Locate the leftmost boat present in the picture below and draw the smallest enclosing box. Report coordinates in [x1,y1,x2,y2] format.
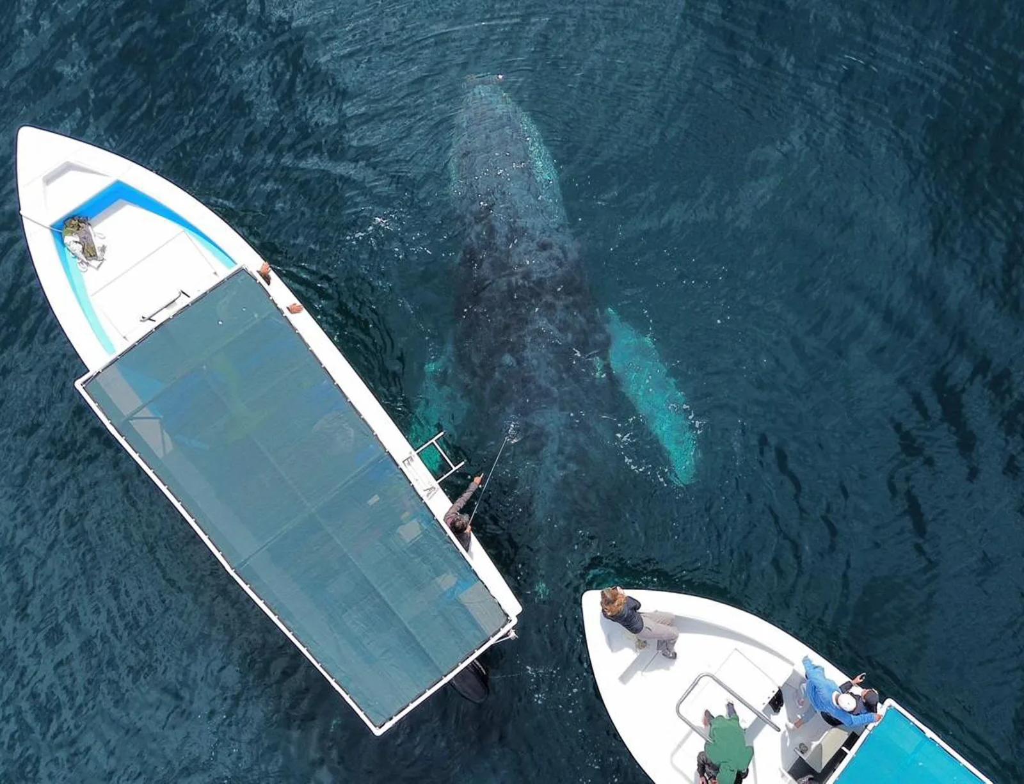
[8,120,521,733]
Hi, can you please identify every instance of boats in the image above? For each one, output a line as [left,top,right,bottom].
[8,120,521,733]
[576,585,1005,784]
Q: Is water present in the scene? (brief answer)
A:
Yes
